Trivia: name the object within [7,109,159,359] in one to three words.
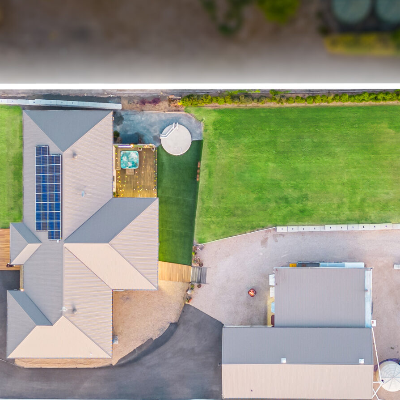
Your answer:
house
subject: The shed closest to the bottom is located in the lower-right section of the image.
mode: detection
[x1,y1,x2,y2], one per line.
[219,325,374,399]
